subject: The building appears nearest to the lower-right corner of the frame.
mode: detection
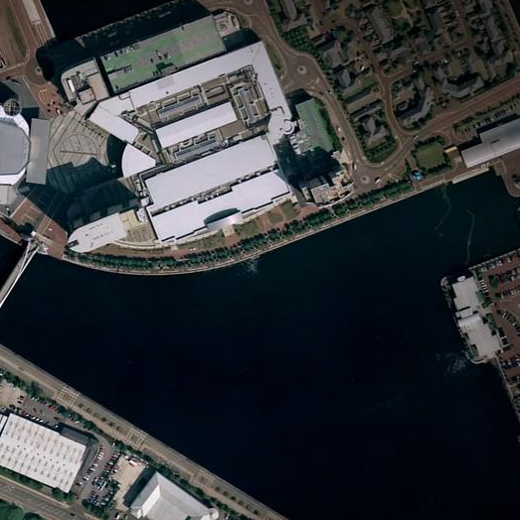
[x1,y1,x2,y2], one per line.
[449,275,503,365]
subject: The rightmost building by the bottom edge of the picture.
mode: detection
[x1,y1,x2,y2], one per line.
[130,471,219,520]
